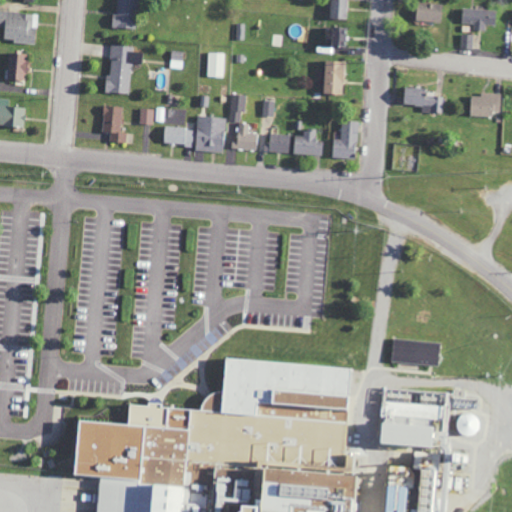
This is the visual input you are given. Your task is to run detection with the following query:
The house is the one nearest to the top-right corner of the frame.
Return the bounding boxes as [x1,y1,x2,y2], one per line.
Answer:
[462,6,496,34]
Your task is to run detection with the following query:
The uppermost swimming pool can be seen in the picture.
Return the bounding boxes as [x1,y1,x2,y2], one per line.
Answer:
[288,23,307,40]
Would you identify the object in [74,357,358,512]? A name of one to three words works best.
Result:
building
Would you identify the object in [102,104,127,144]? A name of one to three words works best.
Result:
house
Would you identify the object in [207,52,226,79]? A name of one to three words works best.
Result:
shed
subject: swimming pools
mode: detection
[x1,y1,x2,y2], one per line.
[156,72,166,90]
[288,23,307,40]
